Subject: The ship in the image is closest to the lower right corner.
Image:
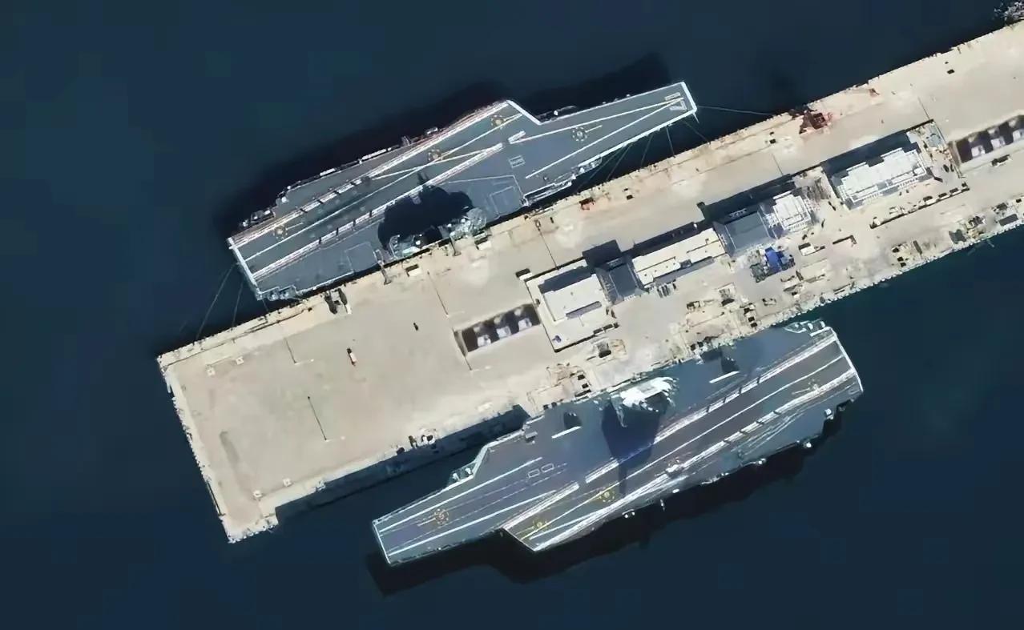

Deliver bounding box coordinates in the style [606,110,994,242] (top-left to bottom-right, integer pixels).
[373,320,863,567]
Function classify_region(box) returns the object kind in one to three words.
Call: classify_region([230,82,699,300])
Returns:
ship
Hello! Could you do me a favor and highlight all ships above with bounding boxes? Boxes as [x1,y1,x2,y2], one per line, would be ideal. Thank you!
[373,320,863,567]
[230,82,699,300]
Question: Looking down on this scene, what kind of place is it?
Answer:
port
